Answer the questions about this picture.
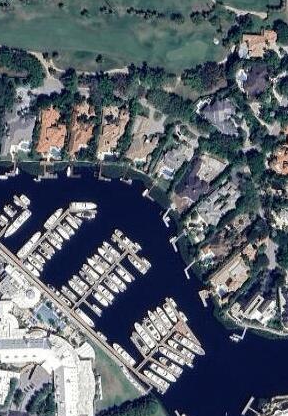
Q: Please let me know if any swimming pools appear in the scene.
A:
Yes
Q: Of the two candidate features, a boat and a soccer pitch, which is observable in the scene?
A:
boat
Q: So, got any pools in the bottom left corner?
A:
Yes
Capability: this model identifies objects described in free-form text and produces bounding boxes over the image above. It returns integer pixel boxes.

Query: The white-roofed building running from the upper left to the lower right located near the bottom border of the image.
[0,302,96,416]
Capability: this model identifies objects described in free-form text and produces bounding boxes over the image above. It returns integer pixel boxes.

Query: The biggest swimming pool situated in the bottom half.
[33,303,65,329]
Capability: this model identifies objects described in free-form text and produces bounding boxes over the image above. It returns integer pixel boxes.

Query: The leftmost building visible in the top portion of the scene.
[4,106,36,141]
